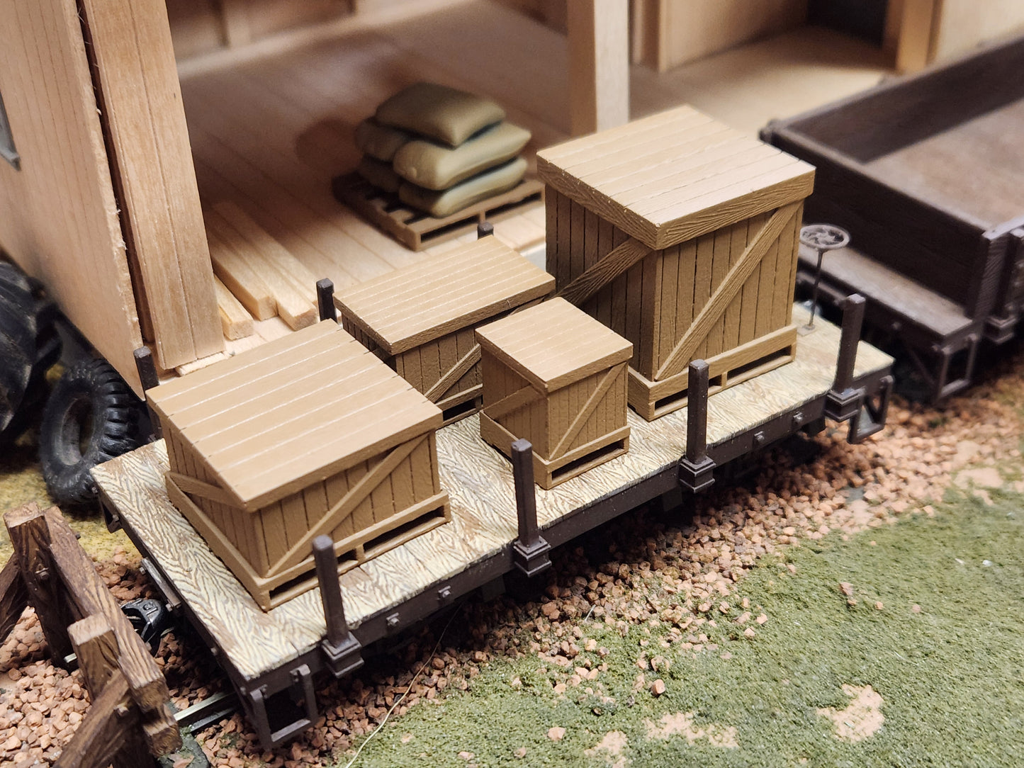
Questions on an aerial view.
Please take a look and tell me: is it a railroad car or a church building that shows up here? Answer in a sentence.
Of the two, only a railroad car appears.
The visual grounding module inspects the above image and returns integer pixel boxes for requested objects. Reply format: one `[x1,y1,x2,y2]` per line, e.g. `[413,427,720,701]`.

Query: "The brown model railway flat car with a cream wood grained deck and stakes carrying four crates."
[91,224,897,753]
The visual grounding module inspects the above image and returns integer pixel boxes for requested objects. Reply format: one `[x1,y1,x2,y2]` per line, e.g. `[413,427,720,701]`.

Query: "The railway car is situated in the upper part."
[753,26,1024,398]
